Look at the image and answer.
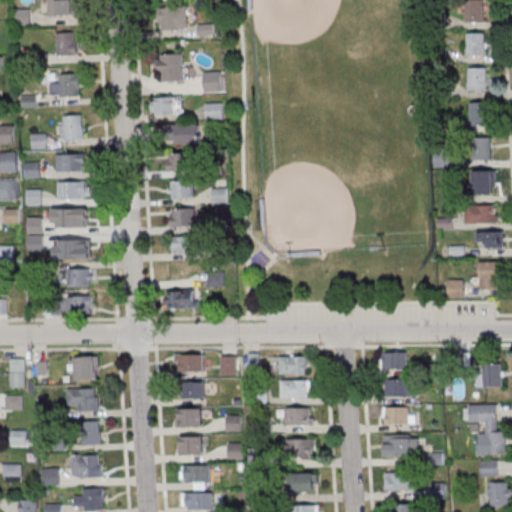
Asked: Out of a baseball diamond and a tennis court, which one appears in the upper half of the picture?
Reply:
baseball diamond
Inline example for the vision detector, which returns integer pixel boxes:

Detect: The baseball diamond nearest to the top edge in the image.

[246,0,405,105]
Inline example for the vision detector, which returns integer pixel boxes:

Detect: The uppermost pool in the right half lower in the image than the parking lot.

[452,376,466,401]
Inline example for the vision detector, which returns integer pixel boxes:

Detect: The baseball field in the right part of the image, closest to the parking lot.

[246,44,431,258]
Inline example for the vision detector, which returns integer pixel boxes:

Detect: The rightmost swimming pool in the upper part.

[194,53,214,68]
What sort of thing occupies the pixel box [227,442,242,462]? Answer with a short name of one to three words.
building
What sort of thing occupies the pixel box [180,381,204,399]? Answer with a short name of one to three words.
house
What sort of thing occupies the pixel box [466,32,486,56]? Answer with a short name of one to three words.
house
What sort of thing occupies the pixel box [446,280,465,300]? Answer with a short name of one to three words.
building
